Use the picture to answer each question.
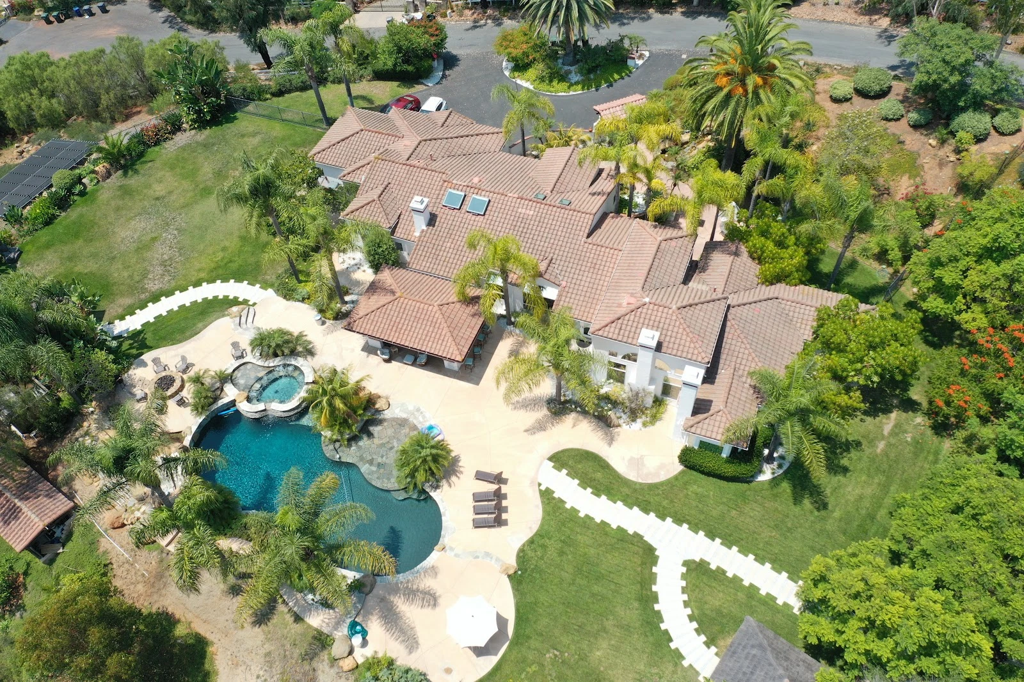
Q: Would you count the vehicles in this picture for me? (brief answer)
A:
2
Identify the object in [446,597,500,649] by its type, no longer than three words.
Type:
umbrella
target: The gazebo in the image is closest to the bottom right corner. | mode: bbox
[711,615,841,682]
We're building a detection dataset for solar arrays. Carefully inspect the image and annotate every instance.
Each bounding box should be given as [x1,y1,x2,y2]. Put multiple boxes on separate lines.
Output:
[0,140,90,217]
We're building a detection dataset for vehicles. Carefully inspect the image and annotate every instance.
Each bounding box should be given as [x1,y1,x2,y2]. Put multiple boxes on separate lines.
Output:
[418,94,450,114]
[394,92,428,113]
